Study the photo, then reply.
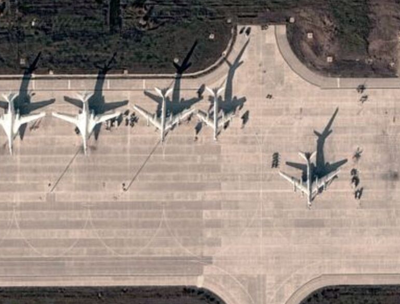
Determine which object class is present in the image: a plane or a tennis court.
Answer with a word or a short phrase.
plane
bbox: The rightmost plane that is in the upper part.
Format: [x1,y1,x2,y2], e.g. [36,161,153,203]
[196,83,234,139]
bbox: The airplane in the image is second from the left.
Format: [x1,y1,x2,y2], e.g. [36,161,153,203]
[52,93,119,153]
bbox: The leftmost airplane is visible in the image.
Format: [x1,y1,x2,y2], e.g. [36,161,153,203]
[0,94,45,153]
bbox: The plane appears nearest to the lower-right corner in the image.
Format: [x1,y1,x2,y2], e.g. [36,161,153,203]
[278,150,338,205]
